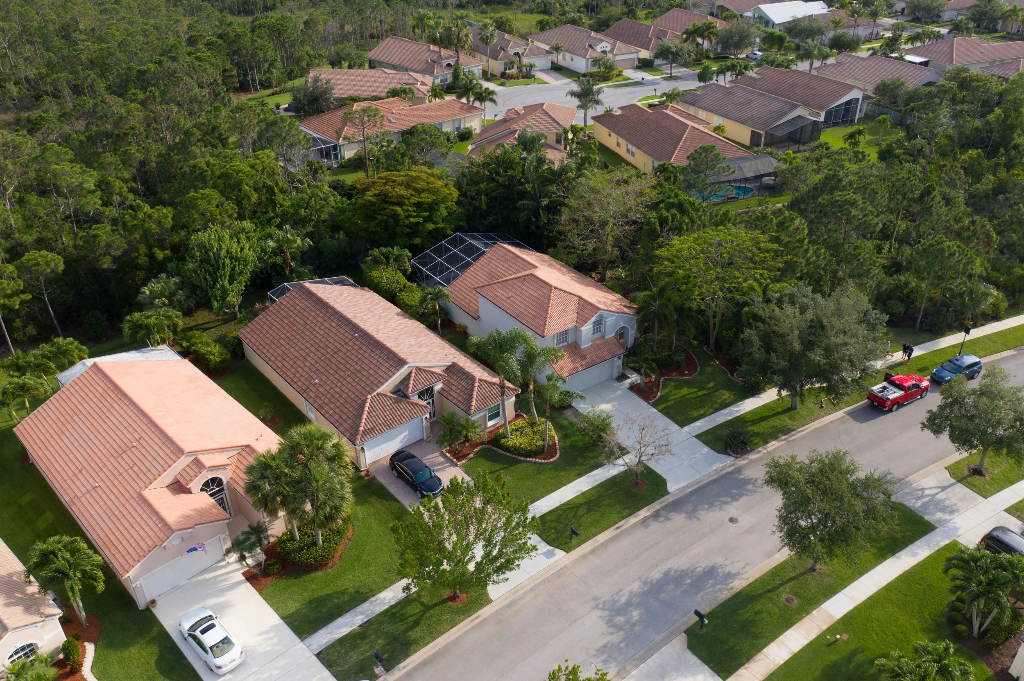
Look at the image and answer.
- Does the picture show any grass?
Yes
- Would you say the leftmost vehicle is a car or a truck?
car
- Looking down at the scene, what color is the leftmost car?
white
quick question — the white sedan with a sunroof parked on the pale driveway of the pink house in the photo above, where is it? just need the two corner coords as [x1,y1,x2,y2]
[175,606,245,676]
